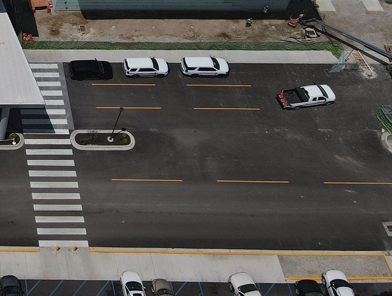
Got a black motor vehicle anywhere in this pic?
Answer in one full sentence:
Yes, this view includes a black motor vehicle.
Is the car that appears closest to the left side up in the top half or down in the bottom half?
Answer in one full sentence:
The car that appears closest to the left side is in the bottom half of the image.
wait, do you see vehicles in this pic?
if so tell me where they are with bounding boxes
[67,59,116,83]
[0,274,23,296]
[119,270,145,296]
[180,56,231,81]
[294,279,324,296]
[321,267,362,296]
[151,278,179,296]
[276,84,337,112]
[121,57,172,81]
[227,271,257,296]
